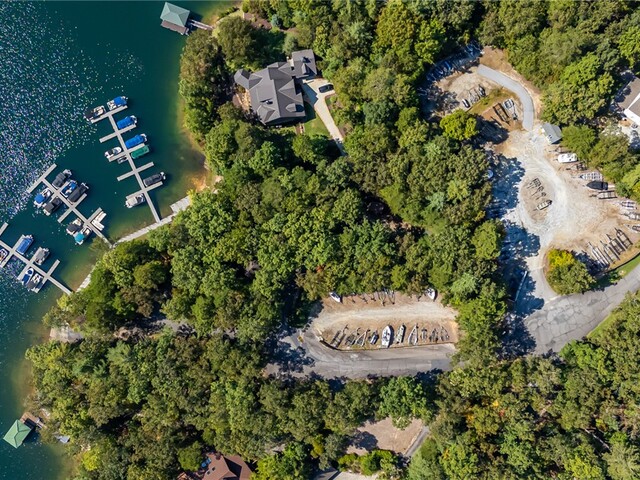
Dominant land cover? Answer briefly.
trees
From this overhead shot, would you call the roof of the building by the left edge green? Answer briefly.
Yes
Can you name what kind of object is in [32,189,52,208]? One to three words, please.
boat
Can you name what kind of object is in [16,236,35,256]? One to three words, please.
boat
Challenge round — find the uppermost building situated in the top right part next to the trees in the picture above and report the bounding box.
[611,78,640,124]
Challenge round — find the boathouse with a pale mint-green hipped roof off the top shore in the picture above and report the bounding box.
[160,1,211,35]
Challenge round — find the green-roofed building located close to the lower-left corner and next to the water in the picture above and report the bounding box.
[3,411,44,448]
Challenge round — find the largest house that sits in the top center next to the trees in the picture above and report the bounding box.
[232,54,318,131]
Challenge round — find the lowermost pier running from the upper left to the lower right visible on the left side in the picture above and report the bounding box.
[0,222,73,297]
